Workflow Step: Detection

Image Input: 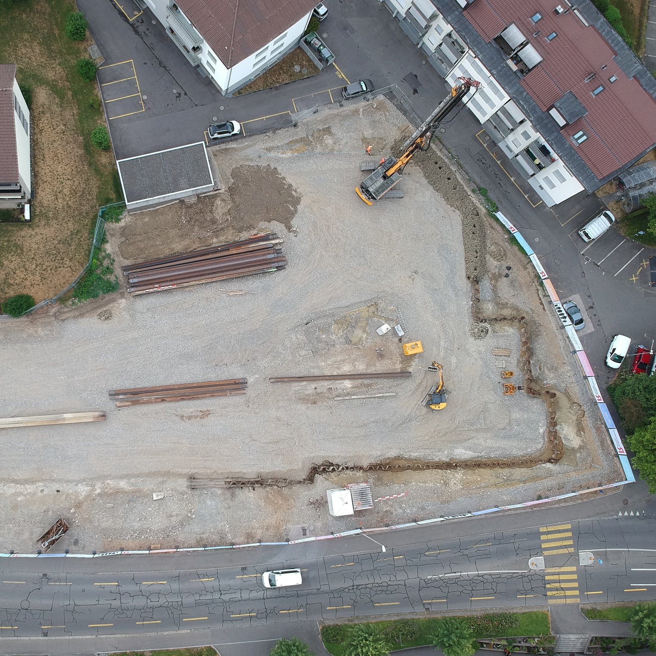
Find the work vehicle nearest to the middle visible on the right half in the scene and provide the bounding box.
[420,362,451,416]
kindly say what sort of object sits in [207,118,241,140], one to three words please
car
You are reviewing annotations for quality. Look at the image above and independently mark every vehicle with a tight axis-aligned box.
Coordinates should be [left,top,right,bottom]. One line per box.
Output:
[630,346,651,380]
[207,118,241,140]
[261,568,302,589]
[572,208,616,246]
[602,332,633,371]
[562,296,591,333]
[340,78,375,99]
[420,362,451,416]
[316,2,332,26]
